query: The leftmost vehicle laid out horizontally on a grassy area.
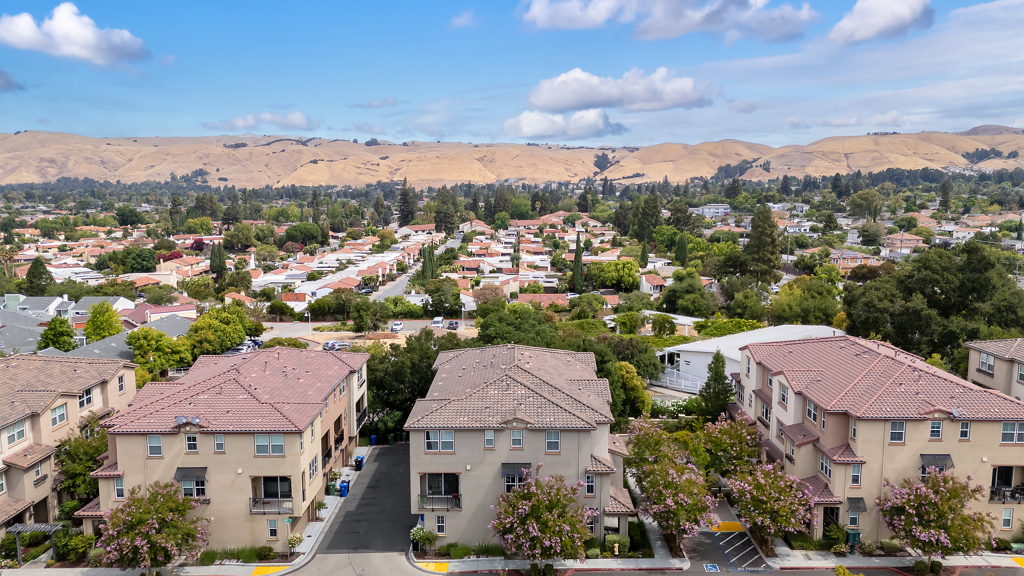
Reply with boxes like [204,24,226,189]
[327,339,357,352]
